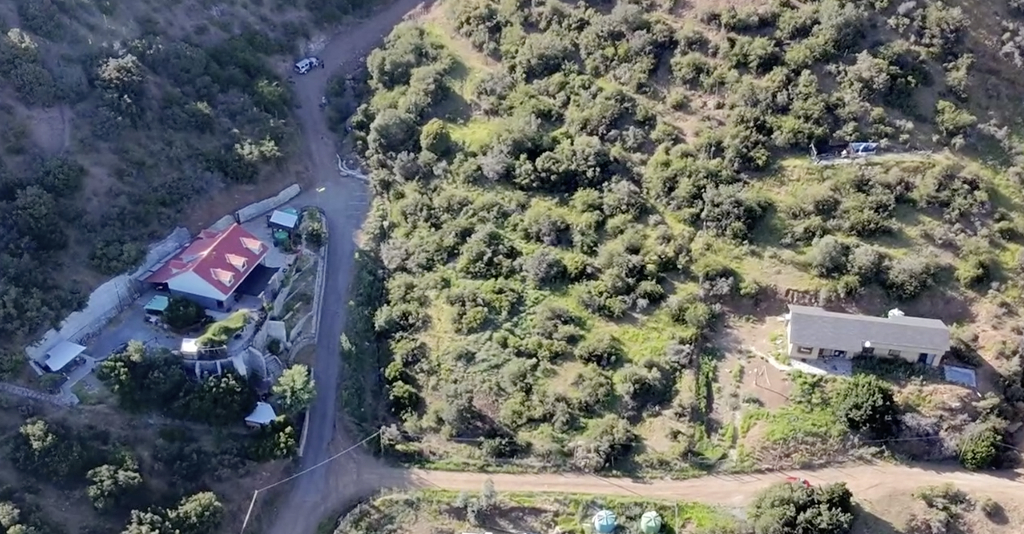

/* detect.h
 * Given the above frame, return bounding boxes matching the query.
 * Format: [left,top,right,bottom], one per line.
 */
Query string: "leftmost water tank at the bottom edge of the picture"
[593,511,618,534]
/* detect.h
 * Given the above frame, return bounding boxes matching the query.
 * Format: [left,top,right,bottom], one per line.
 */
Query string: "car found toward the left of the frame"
[293,58,320,74]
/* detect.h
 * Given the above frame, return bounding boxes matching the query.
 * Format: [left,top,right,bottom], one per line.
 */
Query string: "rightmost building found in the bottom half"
[786,305,951,364]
